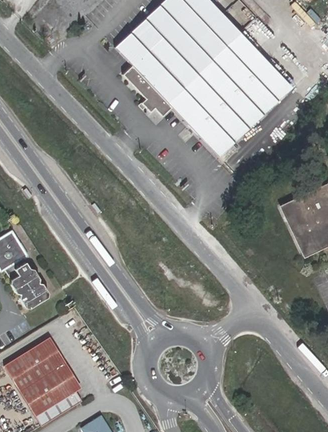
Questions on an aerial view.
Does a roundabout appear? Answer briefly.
Yes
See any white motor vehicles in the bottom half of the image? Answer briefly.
Yes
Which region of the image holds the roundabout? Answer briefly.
bottom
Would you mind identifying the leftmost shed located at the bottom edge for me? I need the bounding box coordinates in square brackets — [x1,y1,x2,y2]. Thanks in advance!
[4,336,88,424]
